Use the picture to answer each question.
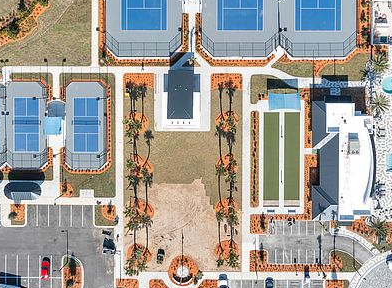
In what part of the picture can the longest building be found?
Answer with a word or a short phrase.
right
